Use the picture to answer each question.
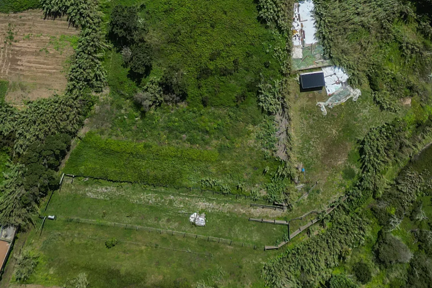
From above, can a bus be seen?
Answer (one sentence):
No, the scene contains no bus.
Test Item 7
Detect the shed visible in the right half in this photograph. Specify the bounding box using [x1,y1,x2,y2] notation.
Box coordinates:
[301,69,325,89]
